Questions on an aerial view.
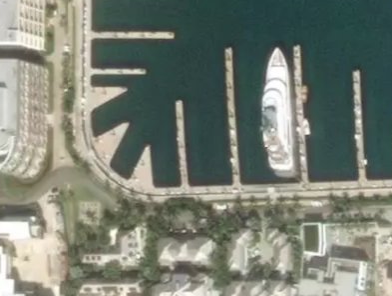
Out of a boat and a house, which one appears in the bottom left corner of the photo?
house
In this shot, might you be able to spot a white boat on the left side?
No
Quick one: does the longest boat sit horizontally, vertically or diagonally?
vertically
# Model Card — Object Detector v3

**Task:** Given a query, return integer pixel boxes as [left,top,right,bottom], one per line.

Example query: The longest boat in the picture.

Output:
[264,47,301,178]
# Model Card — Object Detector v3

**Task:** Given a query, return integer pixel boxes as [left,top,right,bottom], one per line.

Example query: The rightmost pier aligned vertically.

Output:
[353,70,368,181]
